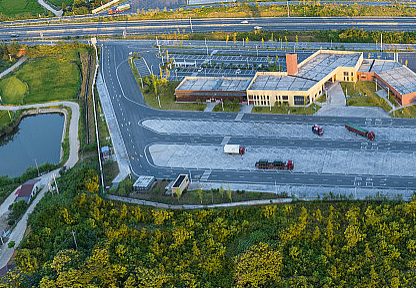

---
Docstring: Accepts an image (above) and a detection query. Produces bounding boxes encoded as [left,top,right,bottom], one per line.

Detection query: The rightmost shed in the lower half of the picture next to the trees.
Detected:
[159,174,191,193]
